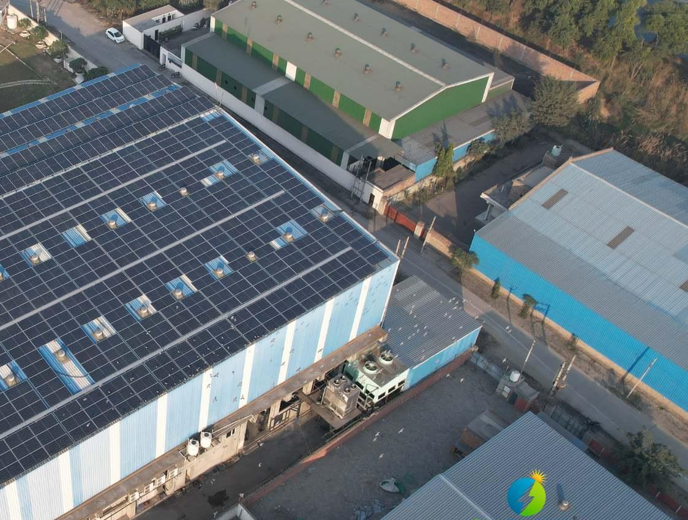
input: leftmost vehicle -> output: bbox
[105,27,128,45]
